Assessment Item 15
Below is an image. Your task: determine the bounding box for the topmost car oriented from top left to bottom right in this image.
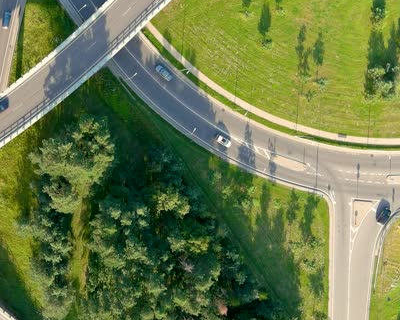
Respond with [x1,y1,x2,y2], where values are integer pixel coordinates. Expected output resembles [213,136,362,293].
[155,64,174,82]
